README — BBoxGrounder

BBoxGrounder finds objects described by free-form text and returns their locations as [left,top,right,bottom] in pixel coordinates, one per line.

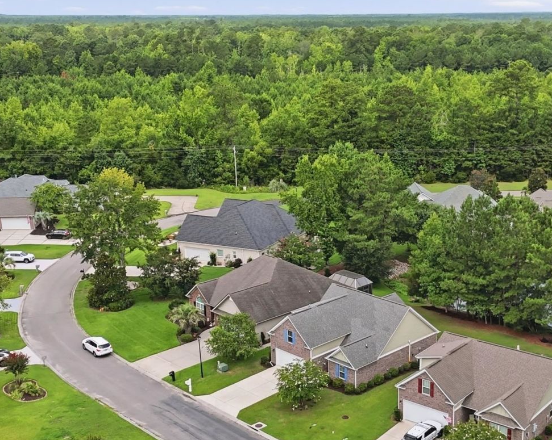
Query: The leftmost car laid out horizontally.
[1,248,38,263]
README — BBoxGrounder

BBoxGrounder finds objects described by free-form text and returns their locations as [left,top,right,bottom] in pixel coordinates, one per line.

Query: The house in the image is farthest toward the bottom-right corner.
[392,331,552,440]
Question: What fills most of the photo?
trees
